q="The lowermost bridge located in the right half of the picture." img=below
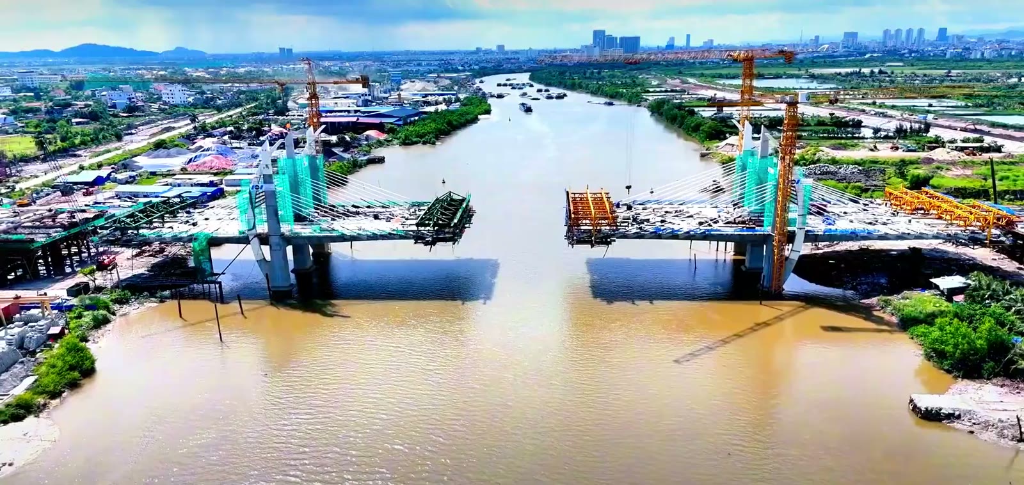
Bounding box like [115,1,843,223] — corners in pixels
[611,119,993,295]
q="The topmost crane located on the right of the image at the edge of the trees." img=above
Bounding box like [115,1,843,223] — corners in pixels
[547,52,783,193]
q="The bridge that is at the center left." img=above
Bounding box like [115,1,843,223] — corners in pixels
[80,124,430,294]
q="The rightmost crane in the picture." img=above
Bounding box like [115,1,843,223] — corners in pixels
[710,95,966,301]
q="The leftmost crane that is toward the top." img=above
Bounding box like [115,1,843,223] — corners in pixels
[43,137,76,204]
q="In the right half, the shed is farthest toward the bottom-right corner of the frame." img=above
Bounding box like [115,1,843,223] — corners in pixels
[926,274,981,298]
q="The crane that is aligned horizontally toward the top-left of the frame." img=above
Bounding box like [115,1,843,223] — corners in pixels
[51,62,376,150]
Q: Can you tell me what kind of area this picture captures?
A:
port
